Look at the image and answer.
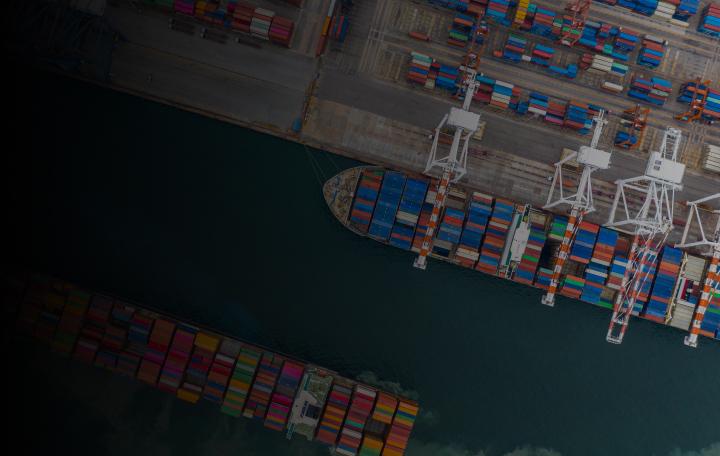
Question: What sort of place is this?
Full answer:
This looks like a port.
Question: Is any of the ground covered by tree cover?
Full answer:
No, no tree cover is visible.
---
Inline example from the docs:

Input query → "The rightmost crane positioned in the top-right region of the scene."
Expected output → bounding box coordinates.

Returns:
[665,80,709,126]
